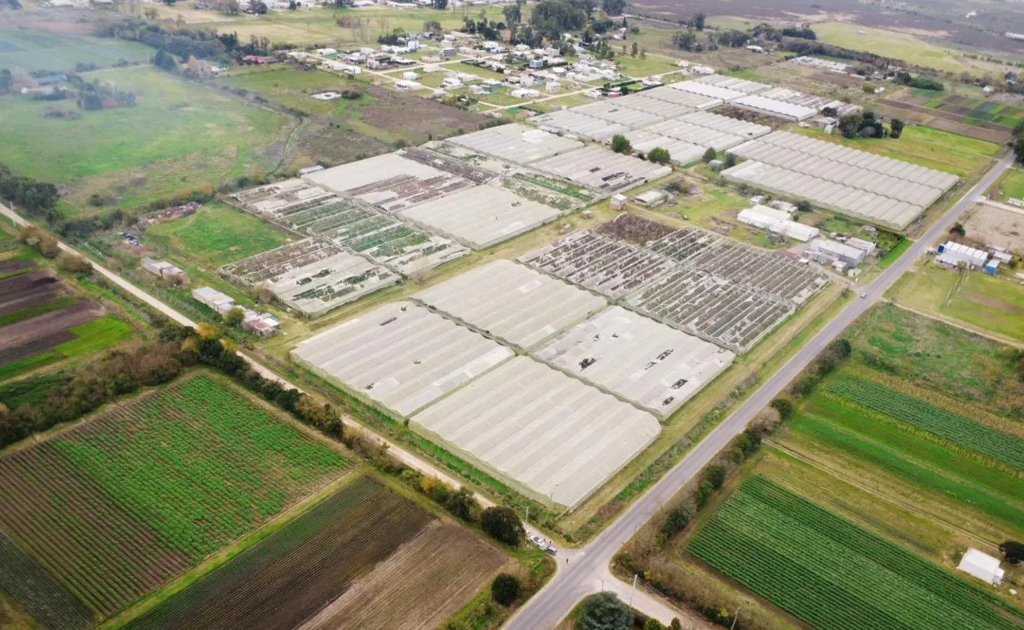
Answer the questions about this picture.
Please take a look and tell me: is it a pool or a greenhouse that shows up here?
greenhouse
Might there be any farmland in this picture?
Yes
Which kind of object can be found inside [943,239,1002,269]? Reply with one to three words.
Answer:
building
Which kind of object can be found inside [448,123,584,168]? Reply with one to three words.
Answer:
greenhouse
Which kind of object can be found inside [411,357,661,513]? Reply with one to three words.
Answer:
greenhouse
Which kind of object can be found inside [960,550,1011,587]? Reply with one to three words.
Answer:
shed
